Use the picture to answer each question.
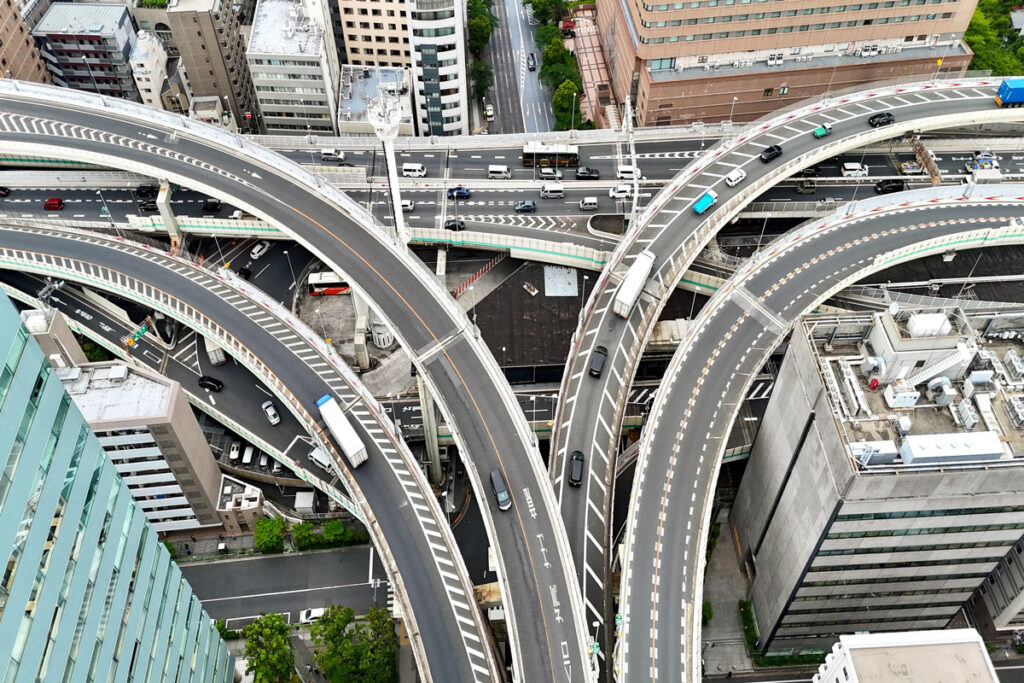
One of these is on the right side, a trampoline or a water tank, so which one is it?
water tank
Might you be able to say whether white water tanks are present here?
Yes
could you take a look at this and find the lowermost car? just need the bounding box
[296,608,329,624]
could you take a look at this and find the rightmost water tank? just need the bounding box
[905,294,971,337]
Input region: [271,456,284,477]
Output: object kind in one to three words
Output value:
vehicle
